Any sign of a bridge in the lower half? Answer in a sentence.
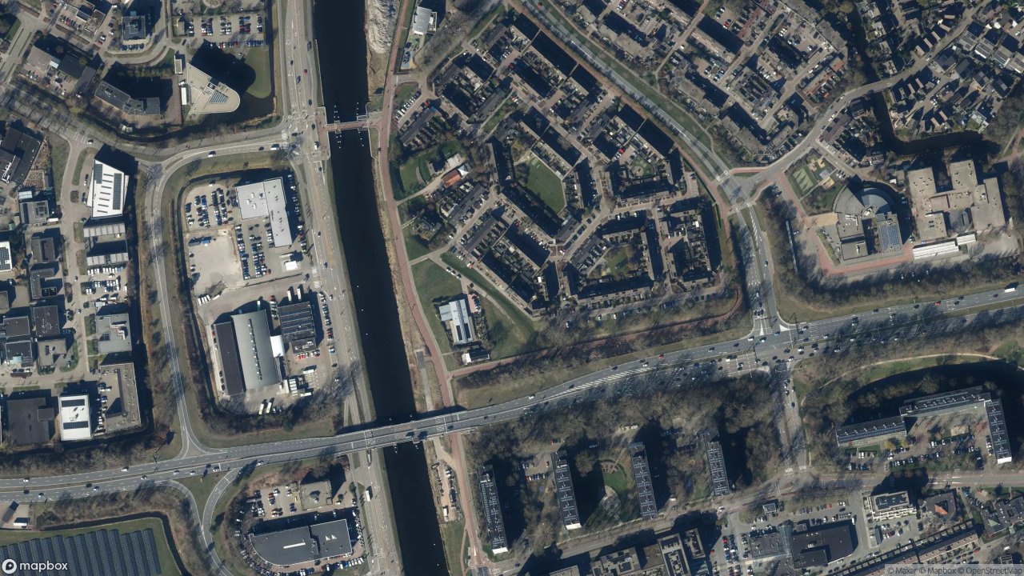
Yes, you'll find a bridge in the lower half.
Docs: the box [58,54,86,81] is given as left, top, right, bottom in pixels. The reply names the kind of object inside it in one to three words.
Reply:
building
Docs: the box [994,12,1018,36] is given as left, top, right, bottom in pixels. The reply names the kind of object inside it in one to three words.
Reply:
house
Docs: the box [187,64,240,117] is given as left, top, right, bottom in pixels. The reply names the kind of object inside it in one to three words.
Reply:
building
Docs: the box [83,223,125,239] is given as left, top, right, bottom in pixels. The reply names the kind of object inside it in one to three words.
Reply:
shed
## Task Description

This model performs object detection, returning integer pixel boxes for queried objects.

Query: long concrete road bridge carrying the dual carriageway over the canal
[344,410,464,451]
